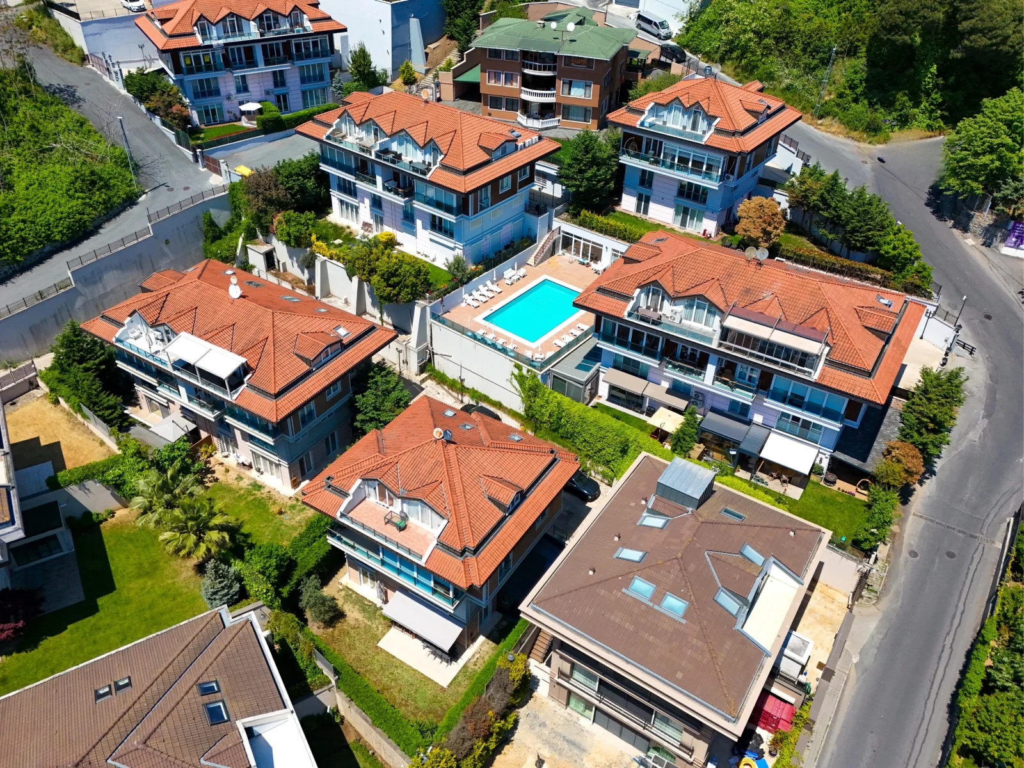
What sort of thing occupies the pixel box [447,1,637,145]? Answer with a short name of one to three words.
house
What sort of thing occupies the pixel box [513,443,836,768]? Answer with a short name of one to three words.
house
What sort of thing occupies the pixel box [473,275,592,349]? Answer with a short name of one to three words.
swimming pool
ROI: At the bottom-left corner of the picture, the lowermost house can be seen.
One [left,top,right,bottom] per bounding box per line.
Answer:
[0,599,323,768]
